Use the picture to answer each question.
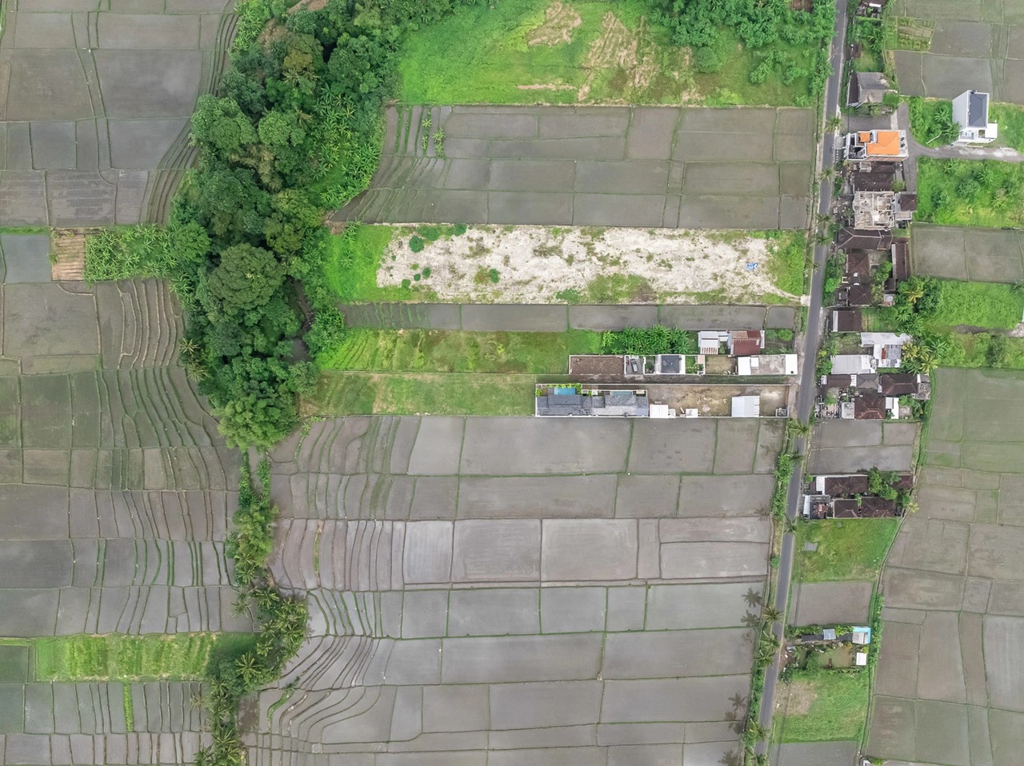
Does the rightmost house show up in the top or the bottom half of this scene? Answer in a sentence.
Seen from above, the rightmost house lies in the top half of the view.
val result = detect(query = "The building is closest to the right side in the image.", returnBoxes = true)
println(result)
[951,90,998,145]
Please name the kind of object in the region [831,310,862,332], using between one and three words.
building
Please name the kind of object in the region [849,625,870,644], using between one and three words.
shed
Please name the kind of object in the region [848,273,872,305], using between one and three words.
house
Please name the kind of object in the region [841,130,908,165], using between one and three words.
house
